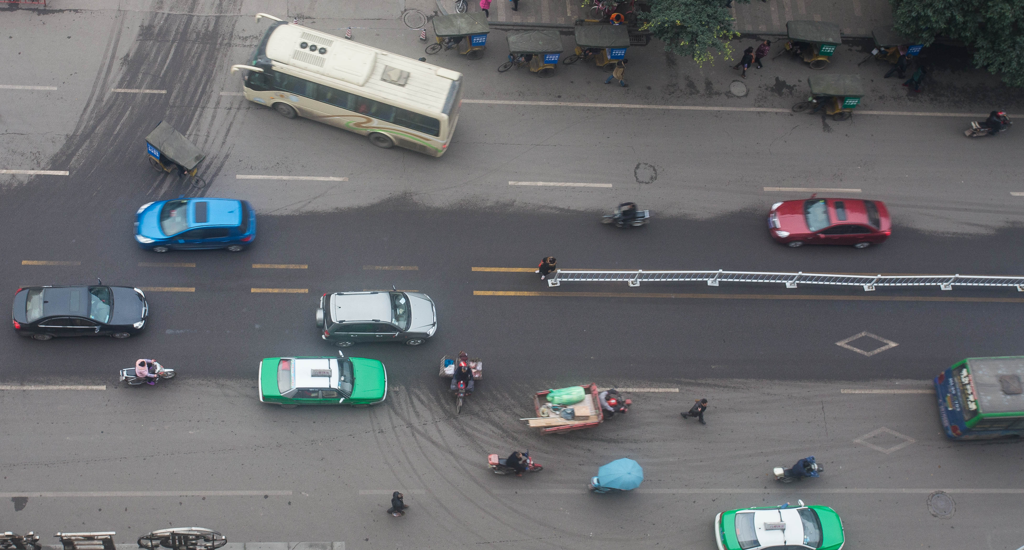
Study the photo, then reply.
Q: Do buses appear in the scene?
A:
Yes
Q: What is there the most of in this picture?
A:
paved ground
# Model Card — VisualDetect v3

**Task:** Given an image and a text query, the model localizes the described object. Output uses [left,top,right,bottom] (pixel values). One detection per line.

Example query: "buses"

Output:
[937,358,1024,445]
[227,6,464,157]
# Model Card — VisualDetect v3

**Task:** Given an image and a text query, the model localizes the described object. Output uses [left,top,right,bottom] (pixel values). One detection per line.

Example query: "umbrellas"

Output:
[598,457,645,493]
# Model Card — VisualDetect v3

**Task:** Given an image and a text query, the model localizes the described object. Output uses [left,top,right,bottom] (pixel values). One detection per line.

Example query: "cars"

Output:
[12,277,152,341]
[258,349,389,411]
[315,286,439,350]
[136,190,255,252]
[713,500,841,550]
[769,191,889,249]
